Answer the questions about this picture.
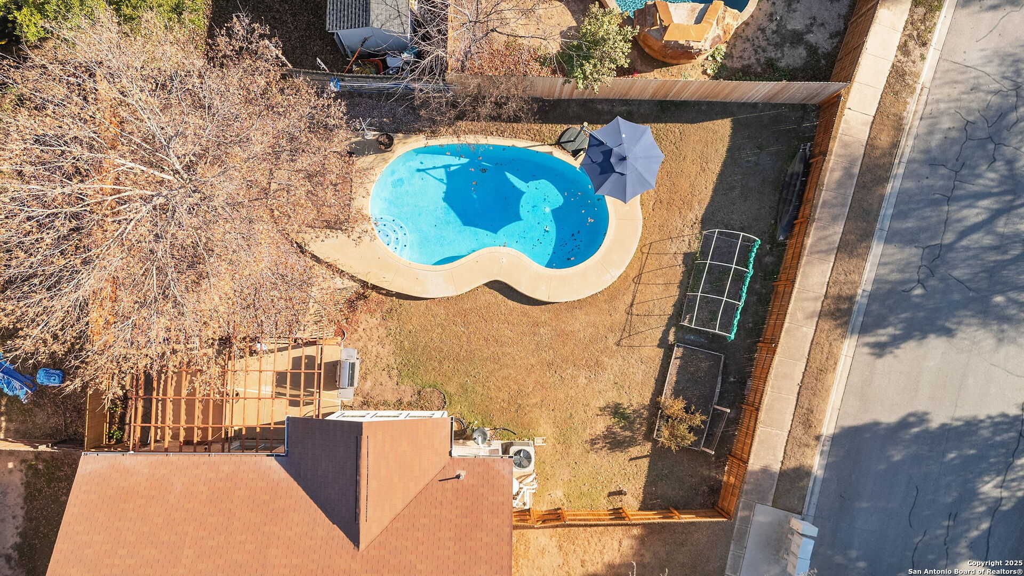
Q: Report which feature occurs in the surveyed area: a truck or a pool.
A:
pool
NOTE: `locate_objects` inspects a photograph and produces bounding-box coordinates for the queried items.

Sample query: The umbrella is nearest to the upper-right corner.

[558,116,664,203]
